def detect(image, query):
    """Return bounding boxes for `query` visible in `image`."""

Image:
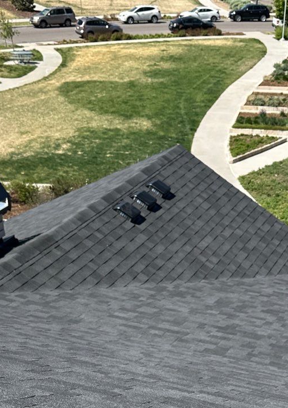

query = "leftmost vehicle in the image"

[26,3,73,27]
